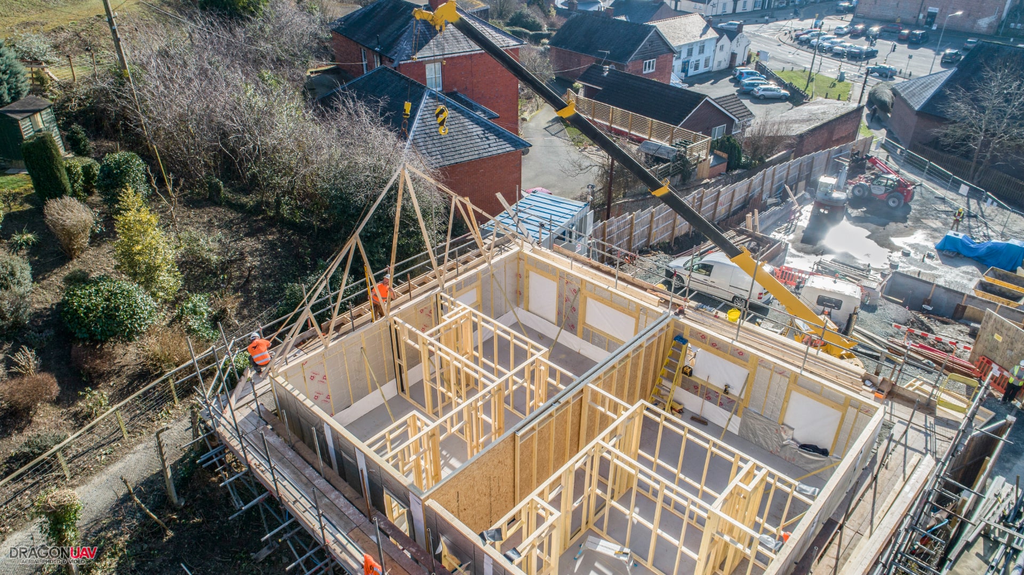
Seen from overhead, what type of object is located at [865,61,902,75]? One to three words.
car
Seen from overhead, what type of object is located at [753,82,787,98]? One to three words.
car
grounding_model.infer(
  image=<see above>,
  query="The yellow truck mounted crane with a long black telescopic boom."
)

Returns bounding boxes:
[410,0,910,389]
